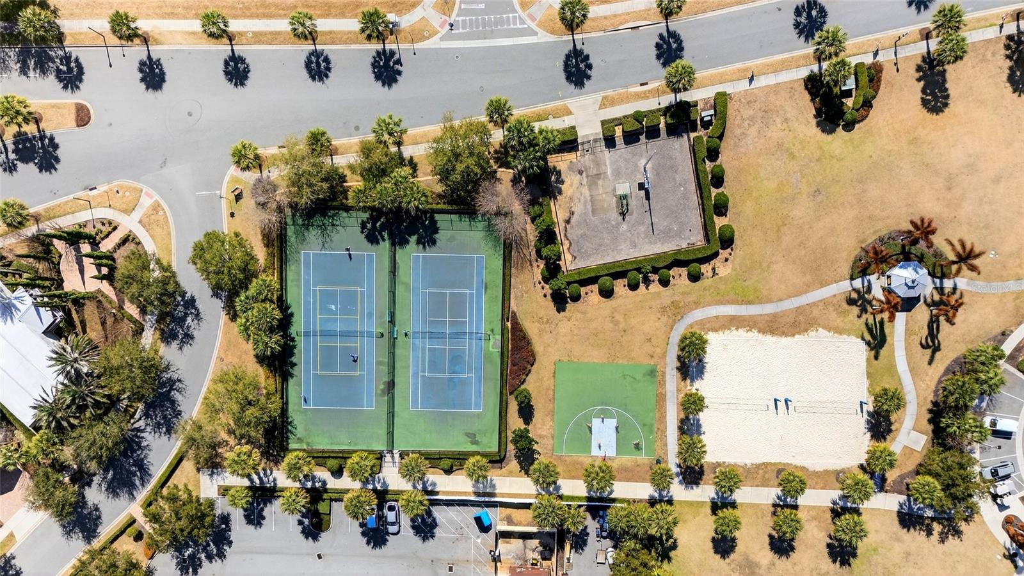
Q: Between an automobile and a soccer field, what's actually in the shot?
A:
automobile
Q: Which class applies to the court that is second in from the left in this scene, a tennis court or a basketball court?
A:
tennis court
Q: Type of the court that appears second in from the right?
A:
basketball court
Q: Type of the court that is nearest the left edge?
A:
tennis court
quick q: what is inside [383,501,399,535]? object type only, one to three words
car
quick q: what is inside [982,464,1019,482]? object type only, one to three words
car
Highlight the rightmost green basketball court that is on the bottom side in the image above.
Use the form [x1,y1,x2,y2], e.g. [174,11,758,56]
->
[554,362,657,458]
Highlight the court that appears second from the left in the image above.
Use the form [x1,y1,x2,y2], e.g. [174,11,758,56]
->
[393,212,504,452]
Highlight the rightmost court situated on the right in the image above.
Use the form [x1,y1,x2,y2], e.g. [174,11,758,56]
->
[693,326,869,471]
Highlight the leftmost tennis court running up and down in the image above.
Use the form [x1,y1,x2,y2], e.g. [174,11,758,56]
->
[285,209,389,450]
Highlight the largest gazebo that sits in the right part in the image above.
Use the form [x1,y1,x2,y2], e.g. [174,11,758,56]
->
[881,261,927,299]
